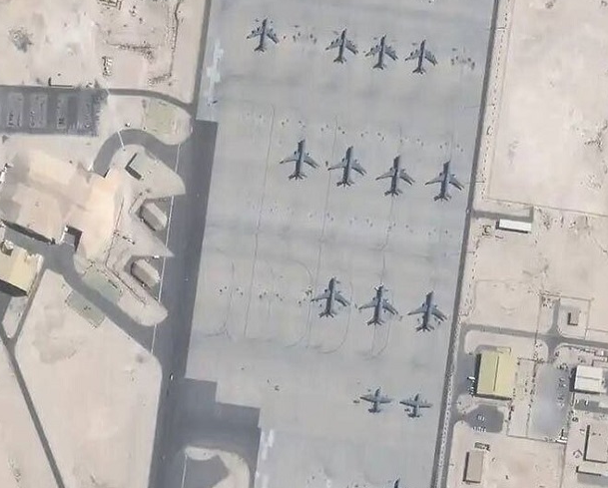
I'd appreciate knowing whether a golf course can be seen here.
No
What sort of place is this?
airport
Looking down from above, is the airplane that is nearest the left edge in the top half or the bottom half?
top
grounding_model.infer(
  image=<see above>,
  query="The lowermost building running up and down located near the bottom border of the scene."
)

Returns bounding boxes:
[466,450,483,483]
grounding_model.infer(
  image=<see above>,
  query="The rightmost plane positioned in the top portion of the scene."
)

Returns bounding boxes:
[429,158,466,198]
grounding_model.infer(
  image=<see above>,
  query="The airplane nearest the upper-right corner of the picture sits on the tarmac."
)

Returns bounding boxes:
[408,38,439,71]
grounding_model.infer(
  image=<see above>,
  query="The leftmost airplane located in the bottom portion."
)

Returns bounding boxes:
[313,275,351,315]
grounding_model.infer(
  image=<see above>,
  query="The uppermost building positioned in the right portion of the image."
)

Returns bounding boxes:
[499,219,532,232]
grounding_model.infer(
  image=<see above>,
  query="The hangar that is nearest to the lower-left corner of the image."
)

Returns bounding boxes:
[0,241,44,295]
